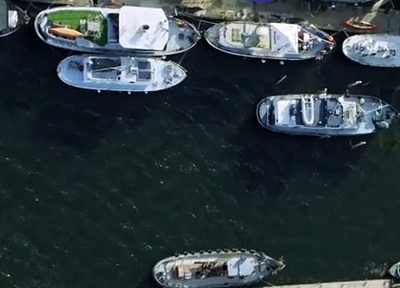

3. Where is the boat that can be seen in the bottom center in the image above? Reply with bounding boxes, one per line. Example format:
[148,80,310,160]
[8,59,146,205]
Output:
[153,248,287,288]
